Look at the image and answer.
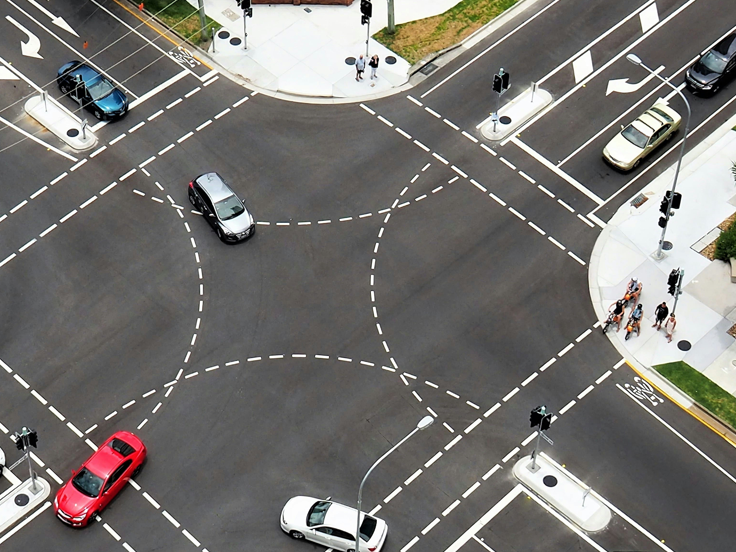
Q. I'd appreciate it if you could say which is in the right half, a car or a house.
car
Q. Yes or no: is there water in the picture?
No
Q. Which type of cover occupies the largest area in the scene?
paved ground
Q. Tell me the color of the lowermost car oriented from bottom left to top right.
red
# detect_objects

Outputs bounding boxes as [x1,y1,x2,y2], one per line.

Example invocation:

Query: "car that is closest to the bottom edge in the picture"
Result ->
[277,495,391,552]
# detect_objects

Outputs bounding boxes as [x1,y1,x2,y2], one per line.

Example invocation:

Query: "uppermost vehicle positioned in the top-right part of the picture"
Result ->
[683,30,736,95]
